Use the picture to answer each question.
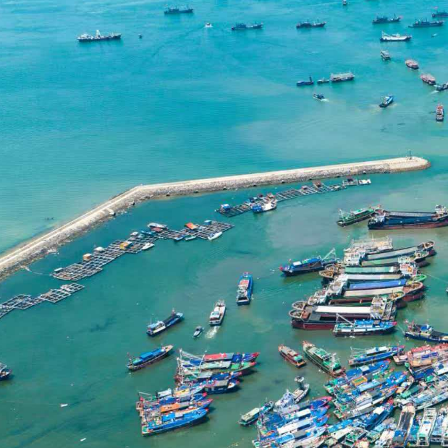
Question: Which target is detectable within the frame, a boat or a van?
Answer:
boat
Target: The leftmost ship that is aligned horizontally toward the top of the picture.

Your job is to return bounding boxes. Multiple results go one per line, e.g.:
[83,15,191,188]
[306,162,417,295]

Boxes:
[76,25,123,40]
